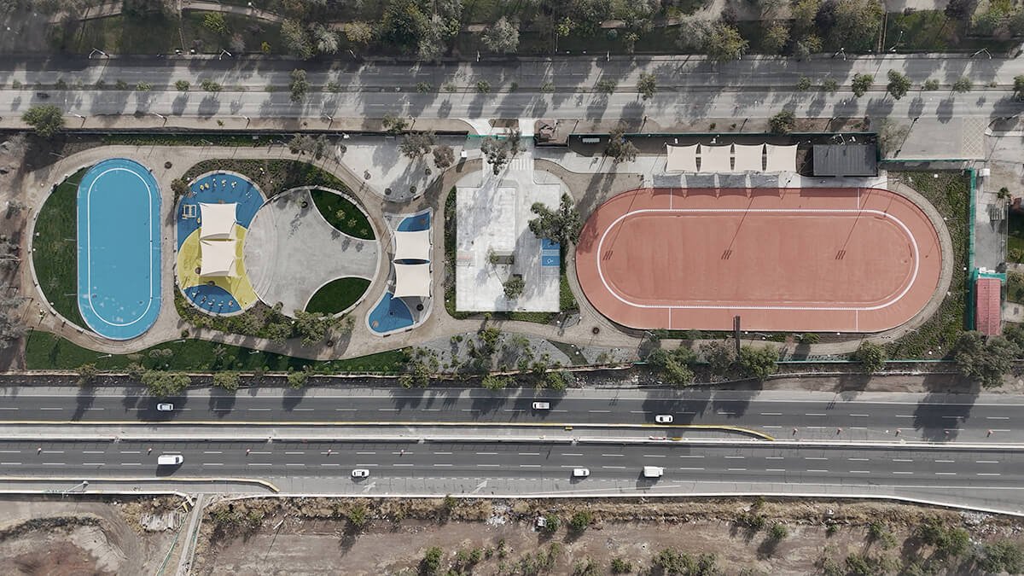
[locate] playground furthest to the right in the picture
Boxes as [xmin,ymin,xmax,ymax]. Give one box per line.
[366,206,435,336]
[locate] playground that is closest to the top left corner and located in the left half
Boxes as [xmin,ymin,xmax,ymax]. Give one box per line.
[174,170,261,317]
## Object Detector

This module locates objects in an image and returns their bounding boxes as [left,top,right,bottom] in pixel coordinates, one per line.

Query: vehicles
[351,470,369,478]
[573,468,590,477]
[156,403,173,412]
[152,455,182,466]
[643,468,665,479]
[532,402,550,411]
[656,415,673,423]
